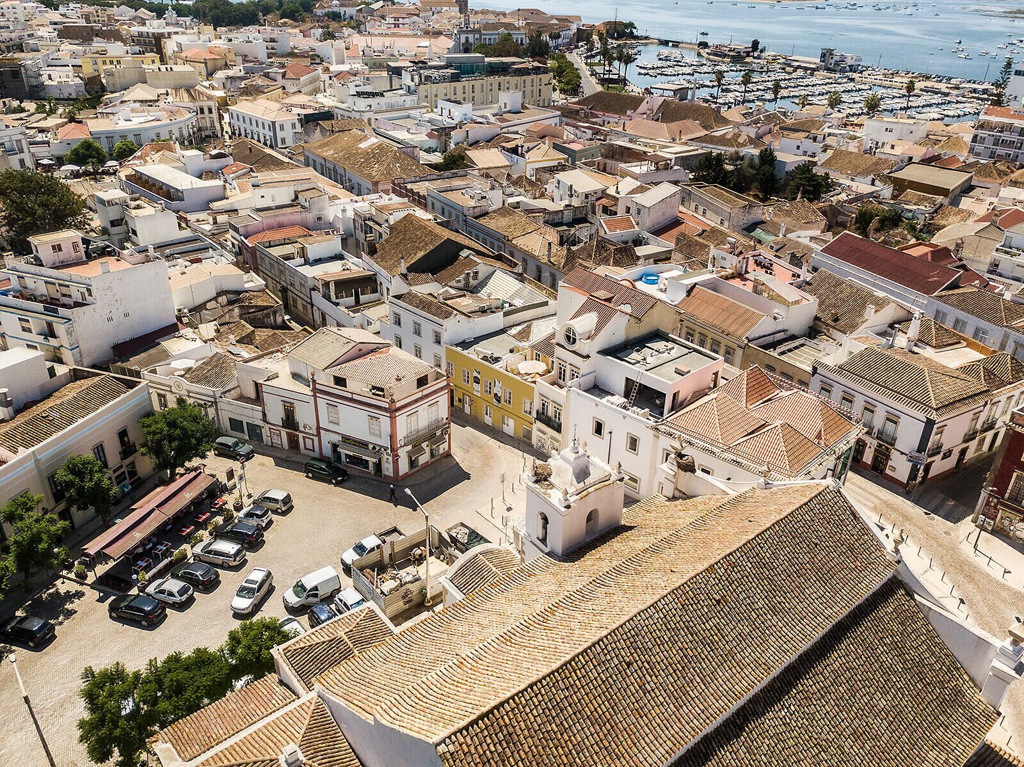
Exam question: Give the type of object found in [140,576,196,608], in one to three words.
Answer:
car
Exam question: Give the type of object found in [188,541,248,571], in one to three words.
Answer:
car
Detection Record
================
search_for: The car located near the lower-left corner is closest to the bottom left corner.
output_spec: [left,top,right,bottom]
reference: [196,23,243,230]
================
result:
[0,613,57,648]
